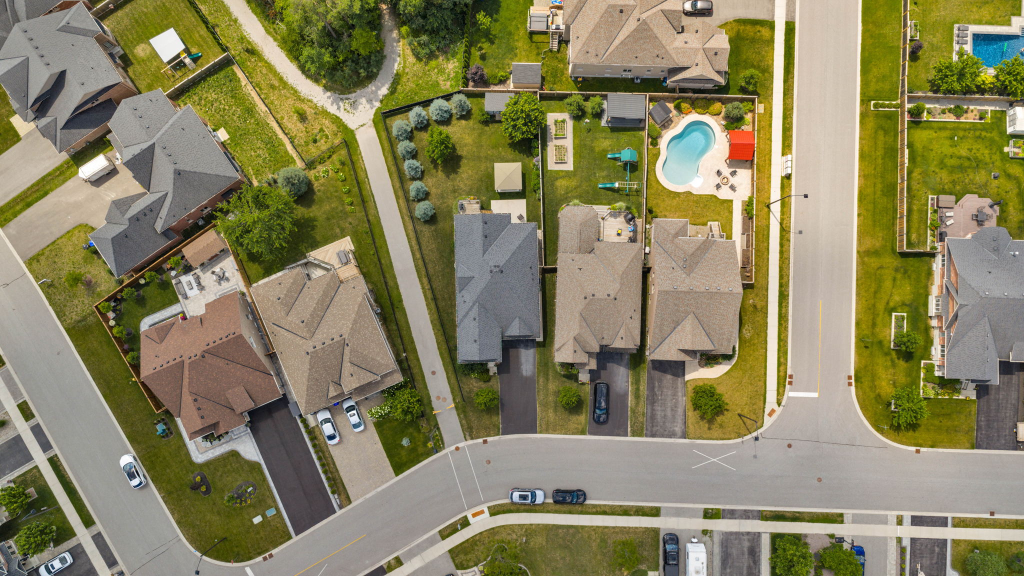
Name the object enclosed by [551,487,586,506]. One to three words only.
car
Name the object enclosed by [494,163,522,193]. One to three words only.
gazebo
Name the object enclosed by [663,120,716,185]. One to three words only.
swimming pool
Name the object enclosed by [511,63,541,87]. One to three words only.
shed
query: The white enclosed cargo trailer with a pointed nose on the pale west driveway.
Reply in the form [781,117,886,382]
[74,150,118,183]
